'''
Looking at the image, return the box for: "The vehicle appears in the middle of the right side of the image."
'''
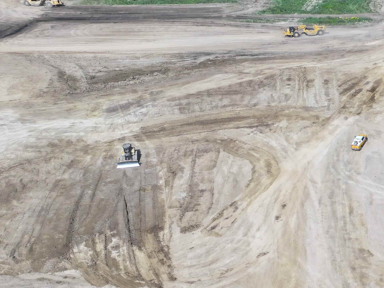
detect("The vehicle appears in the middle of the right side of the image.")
[350,134,368,150]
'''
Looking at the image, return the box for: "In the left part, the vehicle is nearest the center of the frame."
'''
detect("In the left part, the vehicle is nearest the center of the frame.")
[115,143,140,167]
